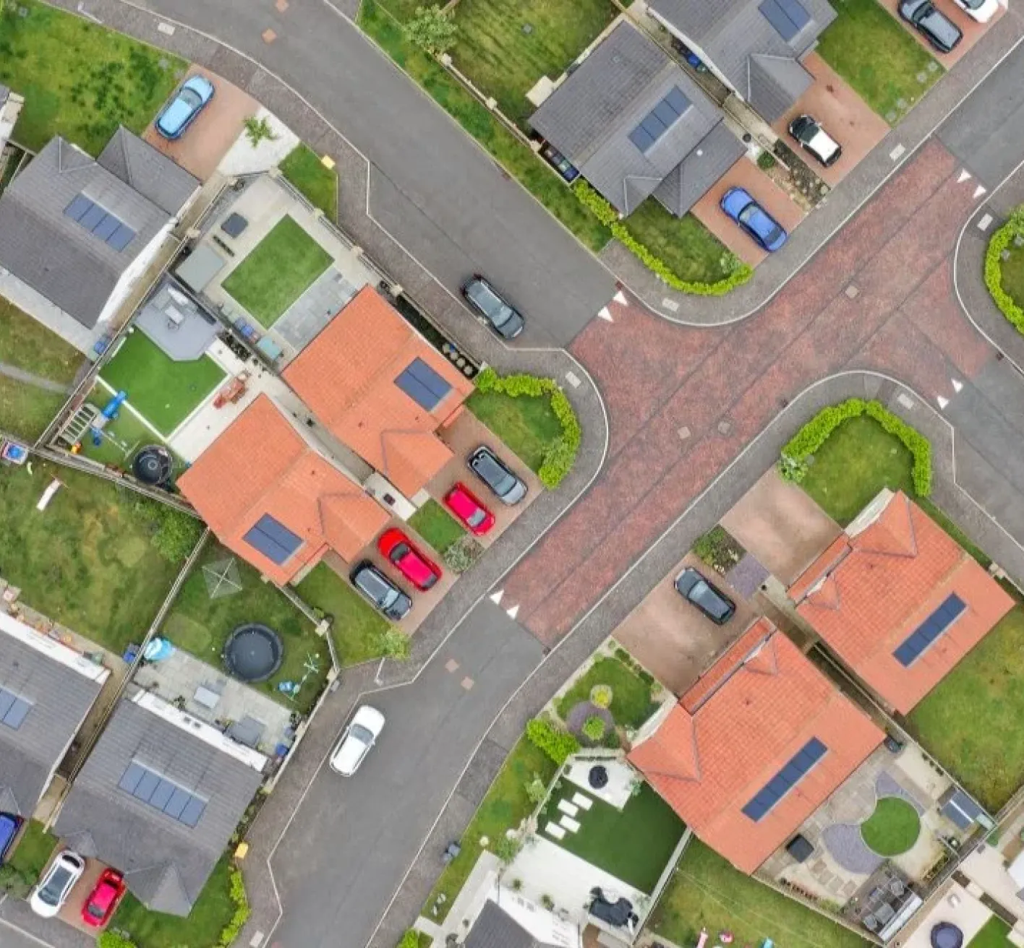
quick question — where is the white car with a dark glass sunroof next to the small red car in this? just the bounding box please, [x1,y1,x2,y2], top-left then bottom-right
[29,847,88,922]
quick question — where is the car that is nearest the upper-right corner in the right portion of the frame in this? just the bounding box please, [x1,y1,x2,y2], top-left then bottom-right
[955,0,1012,35]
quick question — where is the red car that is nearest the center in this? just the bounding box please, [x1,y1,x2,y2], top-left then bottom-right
[439,478,500,540]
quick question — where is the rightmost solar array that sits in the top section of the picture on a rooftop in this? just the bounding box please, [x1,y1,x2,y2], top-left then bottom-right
[760,0,812,46]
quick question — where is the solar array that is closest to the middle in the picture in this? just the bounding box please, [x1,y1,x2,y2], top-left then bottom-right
[394,356,457,414]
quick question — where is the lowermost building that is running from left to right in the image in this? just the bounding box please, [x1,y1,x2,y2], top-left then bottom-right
[461,882,615,948]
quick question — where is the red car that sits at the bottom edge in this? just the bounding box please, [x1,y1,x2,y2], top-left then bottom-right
[81,863,127,930]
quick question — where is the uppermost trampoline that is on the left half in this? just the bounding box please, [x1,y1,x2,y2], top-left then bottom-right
[121,445,173,486]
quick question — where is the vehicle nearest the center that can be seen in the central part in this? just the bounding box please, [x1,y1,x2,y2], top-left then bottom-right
[463,440,531,509]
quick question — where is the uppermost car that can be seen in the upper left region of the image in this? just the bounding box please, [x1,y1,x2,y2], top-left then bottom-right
[156,72,213,144]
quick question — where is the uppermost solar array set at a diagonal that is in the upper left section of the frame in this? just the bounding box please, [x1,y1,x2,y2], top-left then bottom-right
[60,190,140,251]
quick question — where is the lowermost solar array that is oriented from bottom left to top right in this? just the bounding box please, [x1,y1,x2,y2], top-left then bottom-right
[742,737,831,823]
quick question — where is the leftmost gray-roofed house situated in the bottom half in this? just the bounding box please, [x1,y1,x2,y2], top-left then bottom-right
[0,606,120,822]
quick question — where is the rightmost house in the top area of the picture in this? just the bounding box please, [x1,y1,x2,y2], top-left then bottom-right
[644,0,840,126]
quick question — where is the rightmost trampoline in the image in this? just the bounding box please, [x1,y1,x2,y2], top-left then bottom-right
[222,622,283,683]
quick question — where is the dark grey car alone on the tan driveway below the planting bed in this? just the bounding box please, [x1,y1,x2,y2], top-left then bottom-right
[671,563,740,629]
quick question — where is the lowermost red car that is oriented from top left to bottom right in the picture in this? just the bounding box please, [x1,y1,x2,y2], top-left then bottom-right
[376,525,446,595]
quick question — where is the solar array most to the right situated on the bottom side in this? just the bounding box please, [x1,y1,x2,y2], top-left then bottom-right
[893,592,971,669]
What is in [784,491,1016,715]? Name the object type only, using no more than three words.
house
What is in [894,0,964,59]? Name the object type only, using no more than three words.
car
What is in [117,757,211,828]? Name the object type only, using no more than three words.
solar array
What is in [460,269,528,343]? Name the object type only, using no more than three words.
car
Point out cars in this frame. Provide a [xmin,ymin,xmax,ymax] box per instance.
[671,563,740,629]
[894,0,964,59]
[463,440,531,509]
[460,269,528,343]
[345,557,416,624]
[331,702,384,779]
[720,183,789,255]
[156,72,213,144]
[81,863,127,930]
[439,478,500,540]
[0,817,26,869]
[786,110,847,171]
[376,525,446,595]
[29,847,88,922]
[955,0,1012,35]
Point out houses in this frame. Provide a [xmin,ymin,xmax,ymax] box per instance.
[529,18,748,219]
[0,125,209,330]
[0,82,27,143]
[0,606,120,822]
[784,491,1016,715]
[280,284,477,498]
[461,882,615,948]
[644,0,840,126]
[52,693,270,917]
[628,611,888,876]
[176,391,394,588]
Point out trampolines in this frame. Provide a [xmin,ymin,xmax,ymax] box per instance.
[121,445,173,486]
[222,622,283,683]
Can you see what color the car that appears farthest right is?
white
